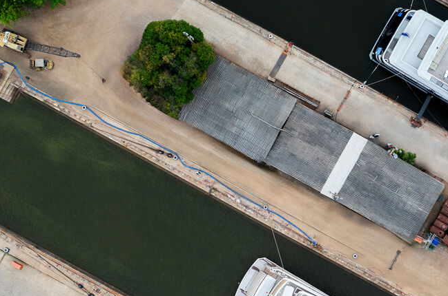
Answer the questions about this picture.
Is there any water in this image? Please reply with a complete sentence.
Yes, the picture does contain water.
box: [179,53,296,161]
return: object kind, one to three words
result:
shed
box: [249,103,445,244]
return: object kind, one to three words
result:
shed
